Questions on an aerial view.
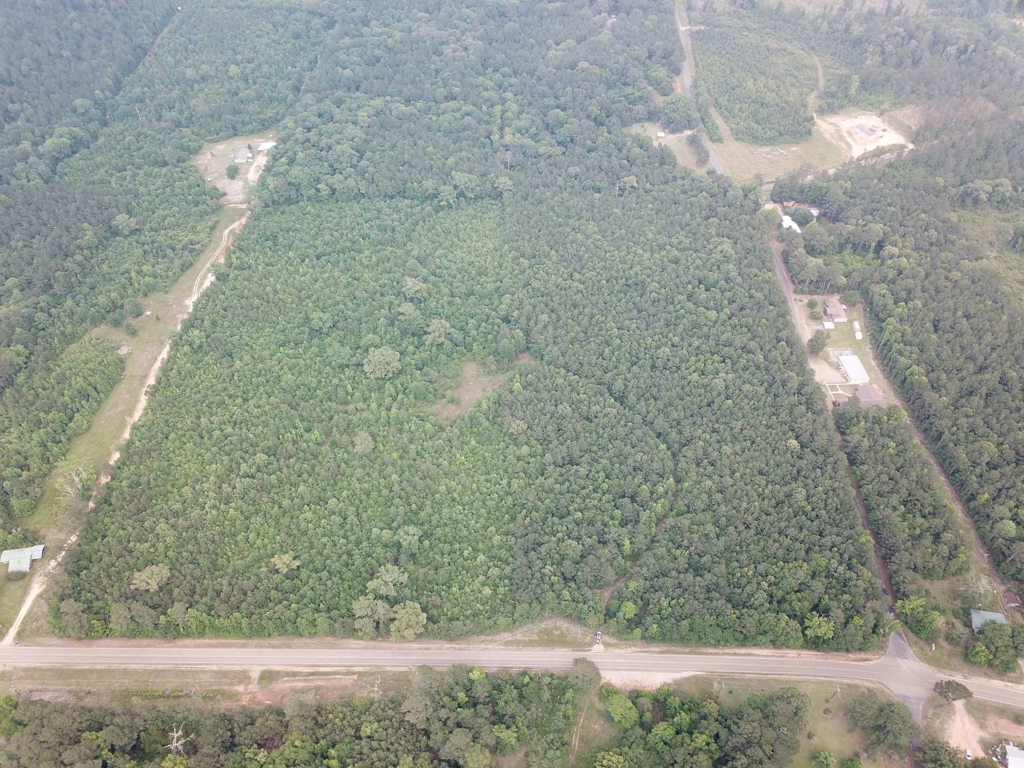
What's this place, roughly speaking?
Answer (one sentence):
This image shows a forest.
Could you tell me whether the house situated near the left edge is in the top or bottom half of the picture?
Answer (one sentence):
The house situated near the left edge is in the bottom half of the image.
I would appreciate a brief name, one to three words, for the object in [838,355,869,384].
building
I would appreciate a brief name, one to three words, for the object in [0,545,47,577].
house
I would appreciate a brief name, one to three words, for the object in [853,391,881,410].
house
